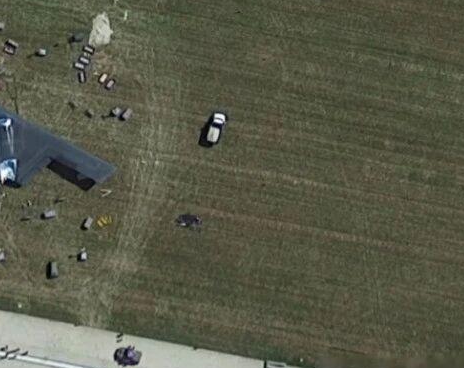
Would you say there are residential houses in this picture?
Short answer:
No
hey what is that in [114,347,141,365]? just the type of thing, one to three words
vehicle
